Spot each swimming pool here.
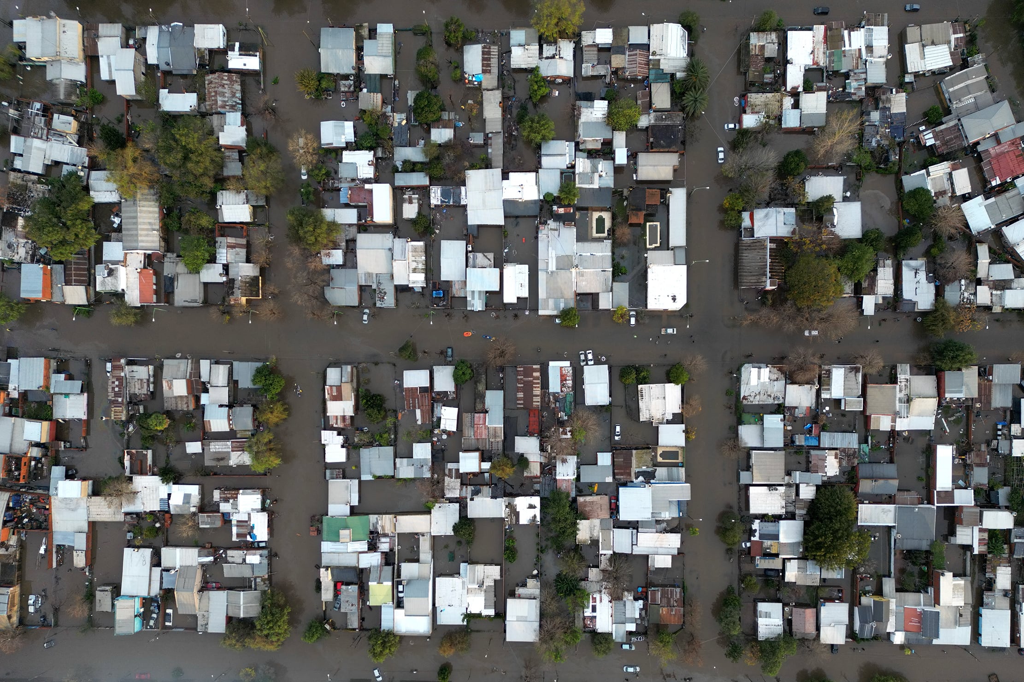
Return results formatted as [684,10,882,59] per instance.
[647,222,660,247]
[592,211,611,238]
[657,447,684,462]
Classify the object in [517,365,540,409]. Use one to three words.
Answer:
shed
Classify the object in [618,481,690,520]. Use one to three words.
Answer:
house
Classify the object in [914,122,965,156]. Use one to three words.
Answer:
shed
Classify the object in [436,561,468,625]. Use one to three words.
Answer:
house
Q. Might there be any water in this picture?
Yes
